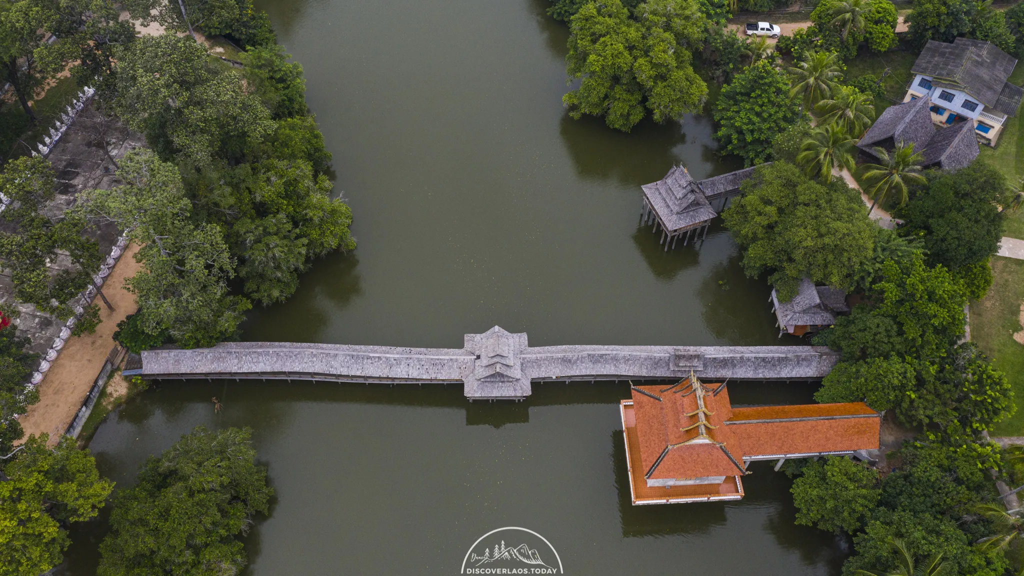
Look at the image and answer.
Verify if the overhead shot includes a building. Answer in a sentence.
Yes, there's a building down there.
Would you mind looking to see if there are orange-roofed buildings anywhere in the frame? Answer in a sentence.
Yes, an orange-roofed building can be made out from above.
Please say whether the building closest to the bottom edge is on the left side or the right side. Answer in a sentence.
The building closest to the bottom edge sits on the right side.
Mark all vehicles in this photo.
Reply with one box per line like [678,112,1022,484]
[746,24,783,41]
